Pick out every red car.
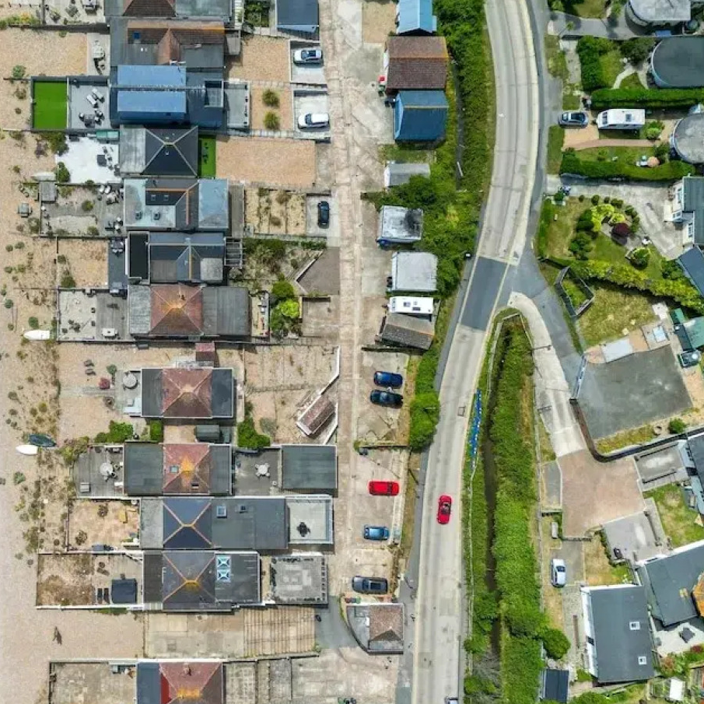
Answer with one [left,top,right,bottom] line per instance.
[368,482,401,497]
[438,497,453,524]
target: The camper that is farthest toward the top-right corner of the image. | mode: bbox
[600,106,650,128]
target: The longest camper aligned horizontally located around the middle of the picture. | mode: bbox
[383,297,436,313]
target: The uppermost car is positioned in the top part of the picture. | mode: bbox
[295,46,322,61]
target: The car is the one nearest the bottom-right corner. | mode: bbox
[553,558,569,589]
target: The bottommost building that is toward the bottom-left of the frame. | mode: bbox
[137,660,224,704]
